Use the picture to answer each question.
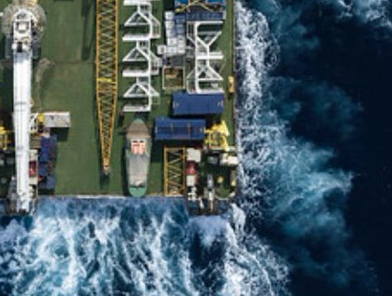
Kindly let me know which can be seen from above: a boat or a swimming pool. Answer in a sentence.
This aerial view contains a boat.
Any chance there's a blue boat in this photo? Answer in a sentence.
No, no blue boat is visible in the scene.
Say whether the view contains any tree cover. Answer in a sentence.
No, the scene doesn't show any tree cover.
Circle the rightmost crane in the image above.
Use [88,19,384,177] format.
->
[203,118,226,149]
